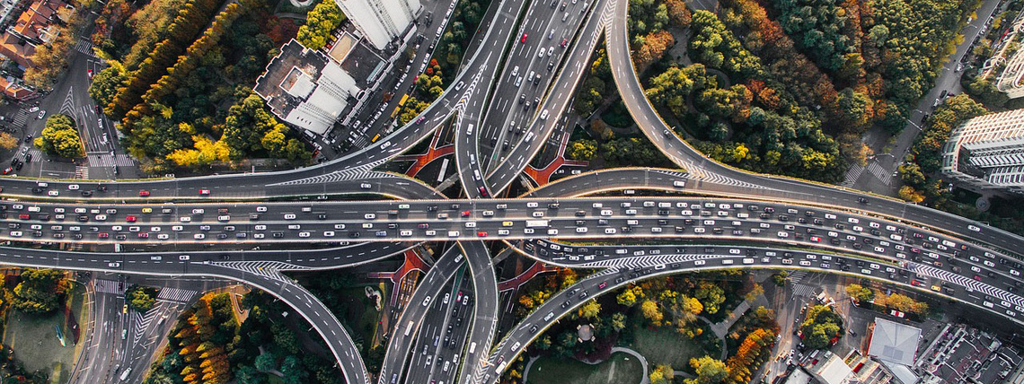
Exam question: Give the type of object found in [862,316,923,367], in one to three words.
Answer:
building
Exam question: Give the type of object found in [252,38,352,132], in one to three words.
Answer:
building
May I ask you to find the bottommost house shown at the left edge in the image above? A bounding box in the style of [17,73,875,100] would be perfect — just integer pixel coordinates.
[0,70,45,107]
